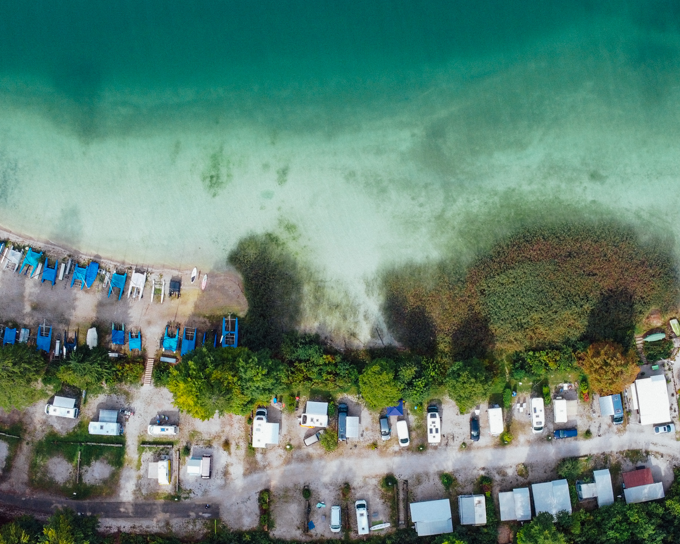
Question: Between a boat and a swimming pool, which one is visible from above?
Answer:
boat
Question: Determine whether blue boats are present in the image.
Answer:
Yes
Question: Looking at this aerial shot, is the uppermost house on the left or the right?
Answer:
right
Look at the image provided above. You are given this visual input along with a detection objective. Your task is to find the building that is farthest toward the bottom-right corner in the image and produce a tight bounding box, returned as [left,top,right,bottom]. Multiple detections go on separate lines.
[619,465,664,504]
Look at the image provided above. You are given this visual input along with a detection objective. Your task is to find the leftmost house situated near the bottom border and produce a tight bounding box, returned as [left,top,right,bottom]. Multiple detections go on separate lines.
[410,498,453,536]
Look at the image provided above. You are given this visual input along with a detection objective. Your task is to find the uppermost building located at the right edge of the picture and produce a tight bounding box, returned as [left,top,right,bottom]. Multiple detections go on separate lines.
[628,375,671,425]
